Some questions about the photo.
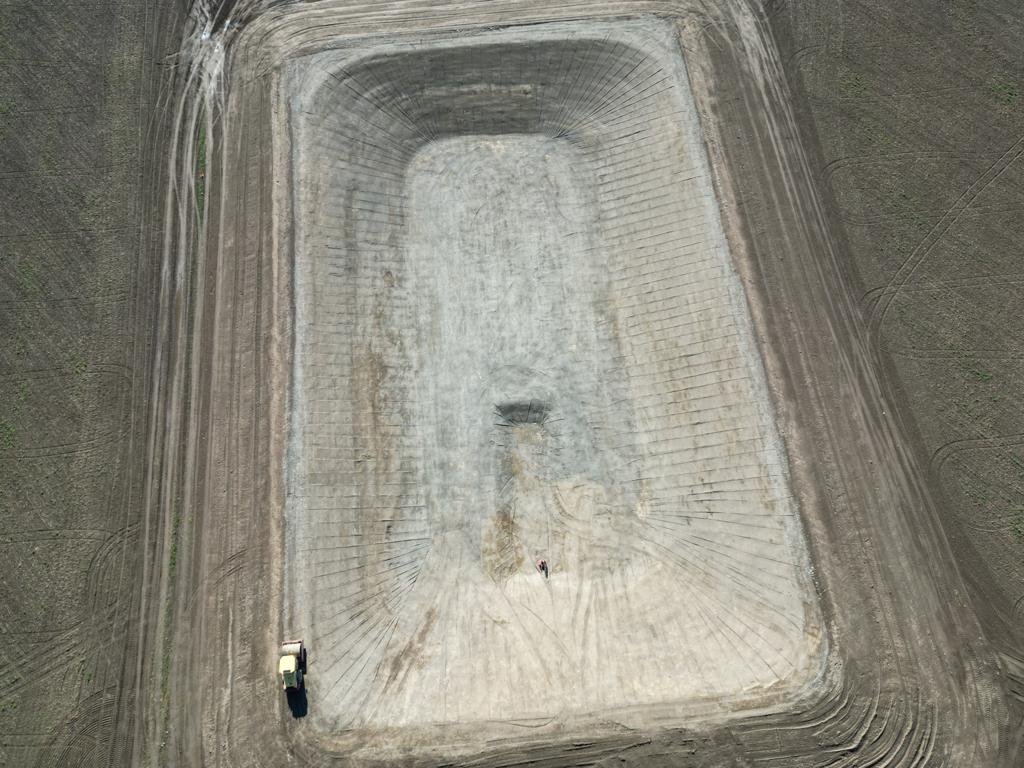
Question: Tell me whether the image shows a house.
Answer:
No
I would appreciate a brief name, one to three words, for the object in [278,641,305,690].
work vehicle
